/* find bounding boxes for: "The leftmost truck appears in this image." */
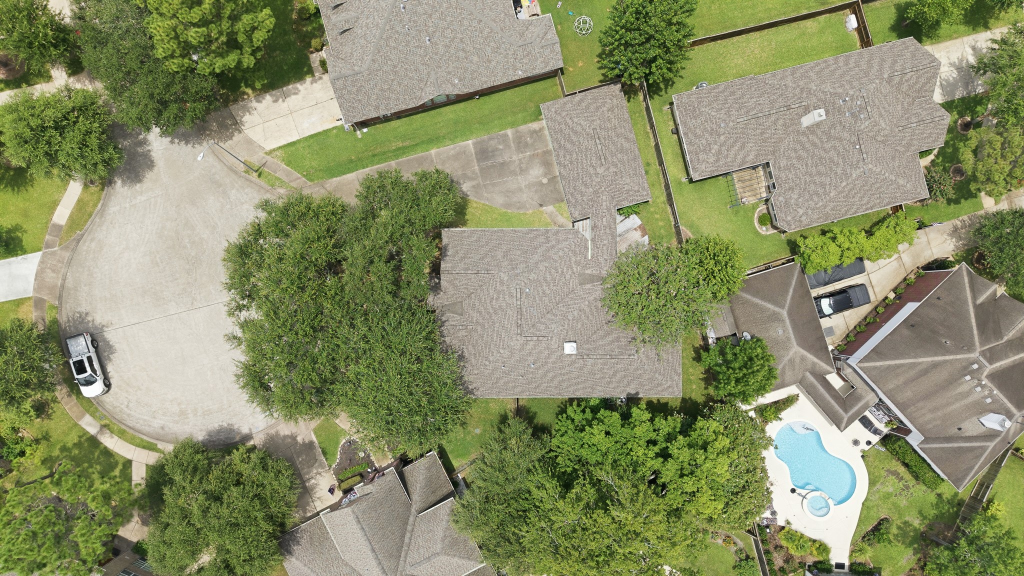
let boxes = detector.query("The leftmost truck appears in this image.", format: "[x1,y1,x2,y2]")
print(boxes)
[68,328,111,400]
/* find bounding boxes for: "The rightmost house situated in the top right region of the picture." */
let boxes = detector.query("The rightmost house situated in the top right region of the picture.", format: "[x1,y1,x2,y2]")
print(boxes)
[671,36,950,233]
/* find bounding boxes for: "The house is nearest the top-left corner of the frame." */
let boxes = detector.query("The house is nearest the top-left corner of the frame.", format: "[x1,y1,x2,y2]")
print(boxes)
[317,0,564,129]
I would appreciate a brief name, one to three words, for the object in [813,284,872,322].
truck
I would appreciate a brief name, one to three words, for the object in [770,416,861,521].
swimming pool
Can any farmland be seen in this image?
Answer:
No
